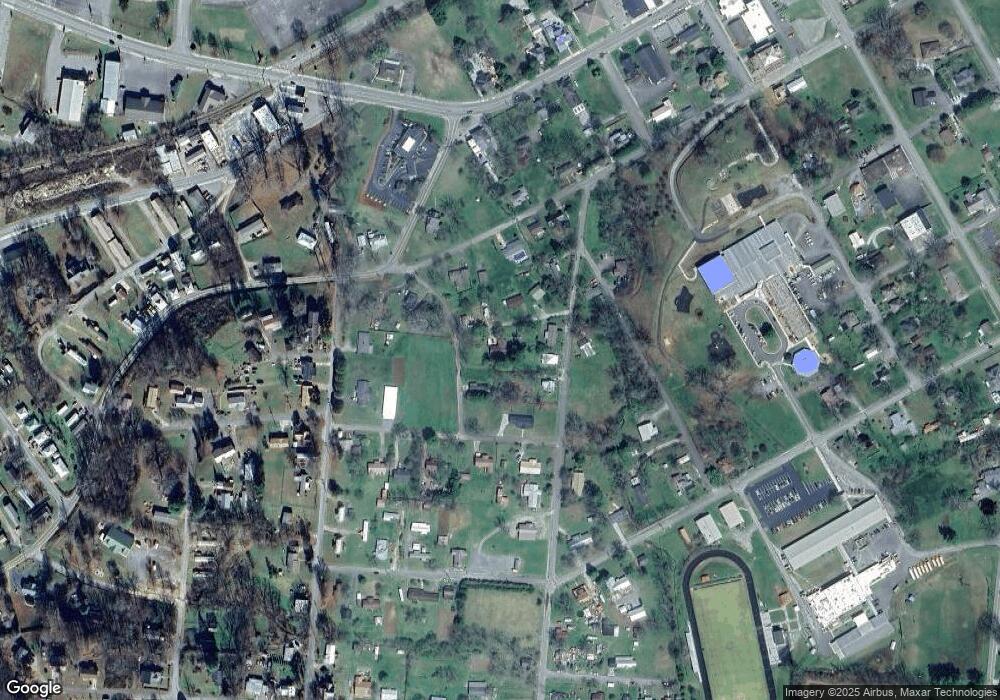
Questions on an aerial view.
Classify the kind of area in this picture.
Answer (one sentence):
It's a residential area.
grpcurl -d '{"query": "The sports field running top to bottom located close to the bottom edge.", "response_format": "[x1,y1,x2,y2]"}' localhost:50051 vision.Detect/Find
[690,556,771,700]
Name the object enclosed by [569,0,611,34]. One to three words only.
house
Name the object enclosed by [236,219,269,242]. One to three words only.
house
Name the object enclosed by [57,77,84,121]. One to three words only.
building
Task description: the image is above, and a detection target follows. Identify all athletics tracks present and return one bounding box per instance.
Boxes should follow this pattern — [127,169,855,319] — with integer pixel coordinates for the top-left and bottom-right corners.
[683,549,779,700]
